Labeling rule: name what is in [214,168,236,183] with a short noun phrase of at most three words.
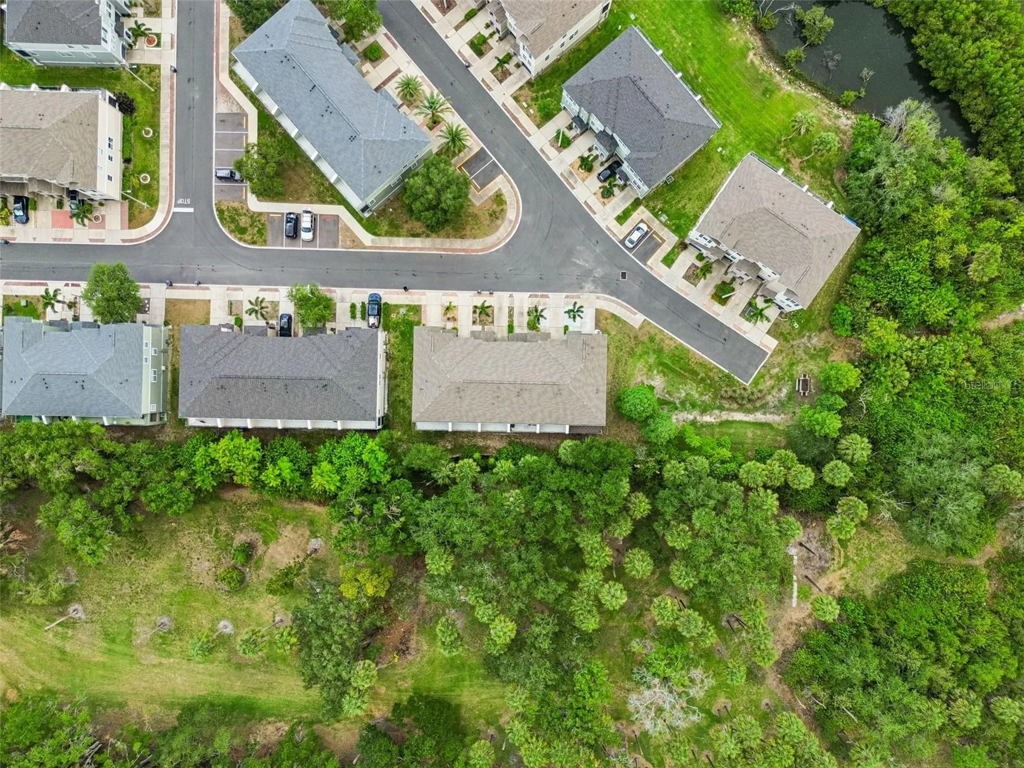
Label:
car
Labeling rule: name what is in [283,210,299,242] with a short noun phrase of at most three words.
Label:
car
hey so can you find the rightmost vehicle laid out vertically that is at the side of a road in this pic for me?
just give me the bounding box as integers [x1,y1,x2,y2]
[366,293,382,330]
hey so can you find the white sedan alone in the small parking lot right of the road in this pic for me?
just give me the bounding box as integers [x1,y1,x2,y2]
[623,222,650,250]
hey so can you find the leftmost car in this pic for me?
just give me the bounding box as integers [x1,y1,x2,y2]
[14,199,31,225]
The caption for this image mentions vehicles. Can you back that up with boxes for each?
[623,222,650,250]
[278,308,294,337]
[283,210,299,242]
[214,168,236,183]
[14,199,31,225]
[299,207,316,242]
[594,157,620,183]
[366,293,382,330]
